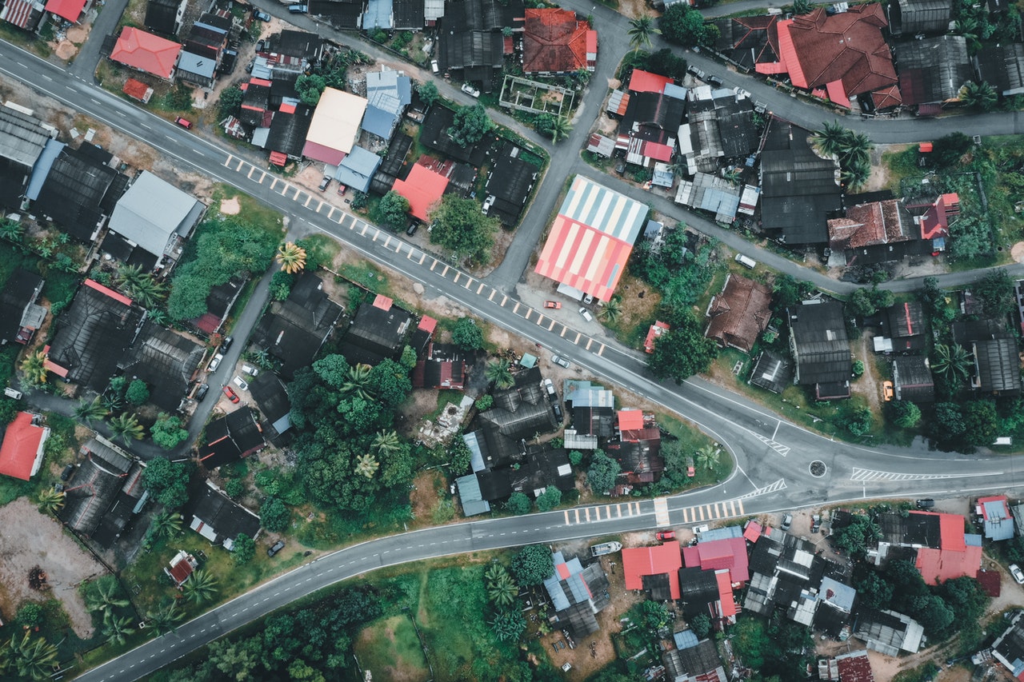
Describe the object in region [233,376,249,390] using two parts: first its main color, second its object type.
white car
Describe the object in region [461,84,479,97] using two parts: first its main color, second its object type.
white vehicle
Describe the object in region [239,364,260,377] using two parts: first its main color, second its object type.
white vehicle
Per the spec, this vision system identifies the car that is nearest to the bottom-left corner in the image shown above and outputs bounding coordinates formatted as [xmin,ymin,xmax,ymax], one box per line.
[60,463,75,482]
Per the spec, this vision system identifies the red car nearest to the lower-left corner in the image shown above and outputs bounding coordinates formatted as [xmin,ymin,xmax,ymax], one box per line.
[223,387,239,403]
